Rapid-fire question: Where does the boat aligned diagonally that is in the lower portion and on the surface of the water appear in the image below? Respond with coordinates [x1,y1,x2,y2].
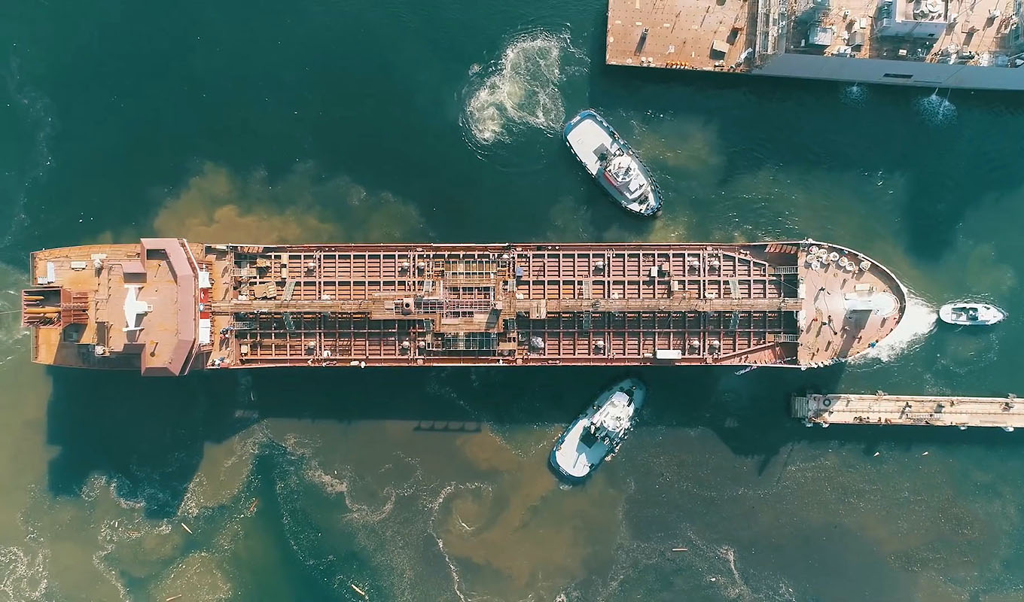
[547,378,647,486]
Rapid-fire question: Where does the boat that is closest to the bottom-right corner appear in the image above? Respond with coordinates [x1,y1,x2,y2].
[938,301,1007,326]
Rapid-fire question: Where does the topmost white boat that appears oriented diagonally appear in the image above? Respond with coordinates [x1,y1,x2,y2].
[562,109,662,214]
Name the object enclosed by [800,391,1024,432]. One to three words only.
pier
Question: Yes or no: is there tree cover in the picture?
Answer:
No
